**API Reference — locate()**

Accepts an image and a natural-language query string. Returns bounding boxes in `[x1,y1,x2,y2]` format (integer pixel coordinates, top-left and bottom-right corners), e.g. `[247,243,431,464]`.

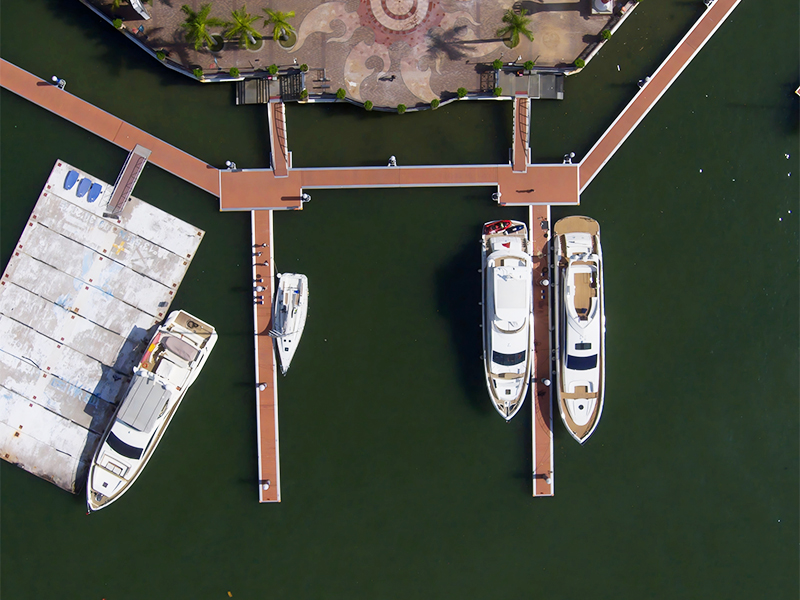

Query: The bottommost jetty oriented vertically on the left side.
[252,211,281,503]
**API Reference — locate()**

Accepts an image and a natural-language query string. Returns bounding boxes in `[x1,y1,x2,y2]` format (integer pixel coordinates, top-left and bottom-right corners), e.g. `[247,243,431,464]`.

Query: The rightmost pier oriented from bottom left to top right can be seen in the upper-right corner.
[579,0,741,195]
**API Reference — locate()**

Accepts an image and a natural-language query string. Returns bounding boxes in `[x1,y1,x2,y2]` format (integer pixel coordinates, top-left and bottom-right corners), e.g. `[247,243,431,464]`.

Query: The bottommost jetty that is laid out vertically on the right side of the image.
[529,205,555,497]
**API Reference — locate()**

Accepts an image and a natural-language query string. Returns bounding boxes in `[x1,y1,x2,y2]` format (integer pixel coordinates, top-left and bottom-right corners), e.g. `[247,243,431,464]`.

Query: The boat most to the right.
[553,216,606,444]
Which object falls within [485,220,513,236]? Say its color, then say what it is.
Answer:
red boat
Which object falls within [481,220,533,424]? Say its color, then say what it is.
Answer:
white boat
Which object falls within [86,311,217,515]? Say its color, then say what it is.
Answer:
white boat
